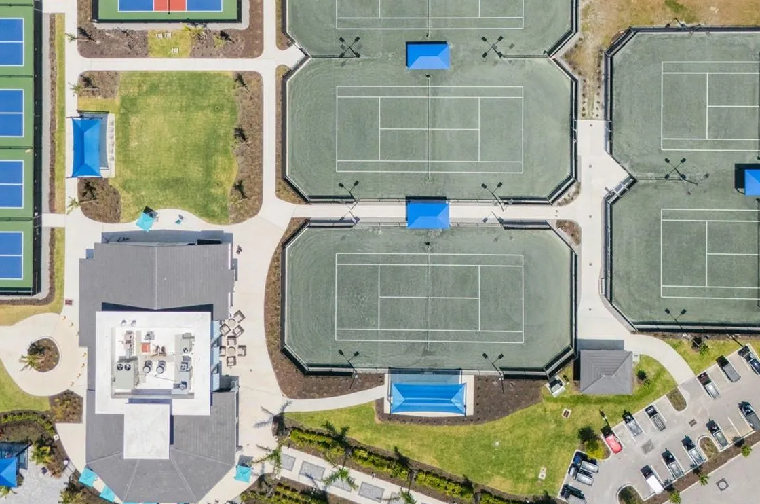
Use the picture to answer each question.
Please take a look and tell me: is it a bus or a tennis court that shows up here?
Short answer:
tennis court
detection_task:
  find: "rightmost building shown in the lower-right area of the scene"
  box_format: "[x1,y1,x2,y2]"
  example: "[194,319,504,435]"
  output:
[580,346,633,394]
